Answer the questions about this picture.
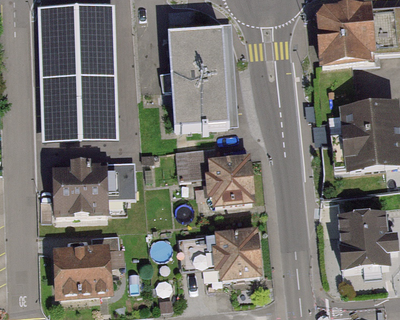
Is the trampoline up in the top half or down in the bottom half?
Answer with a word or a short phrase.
bottom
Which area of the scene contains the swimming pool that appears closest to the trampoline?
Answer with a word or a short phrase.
bottom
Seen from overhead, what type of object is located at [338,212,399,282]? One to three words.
house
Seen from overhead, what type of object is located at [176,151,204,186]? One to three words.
shed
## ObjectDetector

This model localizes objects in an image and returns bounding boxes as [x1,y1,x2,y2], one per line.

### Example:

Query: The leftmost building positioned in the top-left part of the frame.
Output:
[39,4,118,145]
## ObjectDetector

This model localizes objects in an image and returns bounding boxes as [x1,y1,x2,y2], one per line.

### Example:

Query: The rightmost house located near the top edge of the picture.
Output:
[316,0,400,72]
